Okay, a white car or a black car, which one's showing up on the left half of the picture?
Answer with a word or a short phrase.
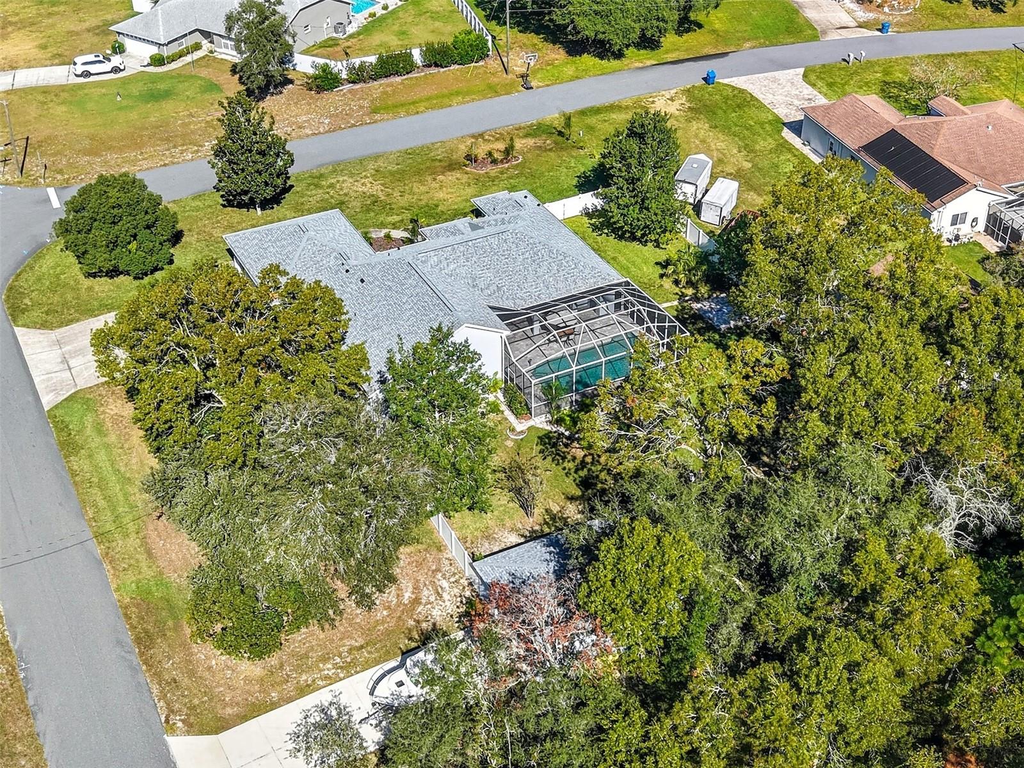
white car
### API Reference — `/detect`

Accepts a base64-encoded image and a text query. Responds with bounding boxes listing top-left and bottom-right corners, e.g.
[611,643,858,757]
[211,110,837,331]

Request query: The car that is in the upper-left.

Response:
[67,50,125,78]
